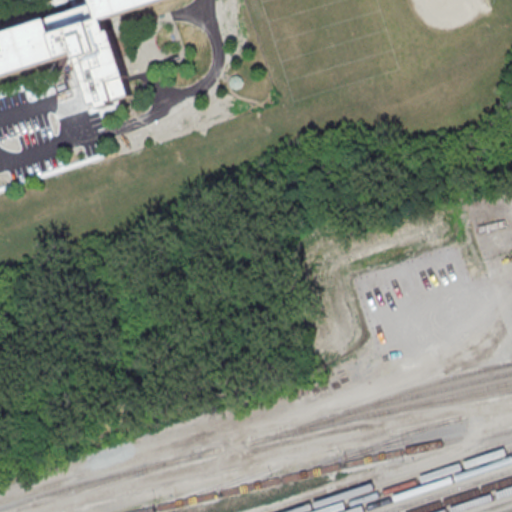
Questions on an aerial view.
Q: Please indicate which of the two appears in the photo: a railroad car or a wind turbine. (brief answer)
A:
railroad car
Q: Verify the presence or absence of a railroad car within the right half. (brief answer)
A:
Yes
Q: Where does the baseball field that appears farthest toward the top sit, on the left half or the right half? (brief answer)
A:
right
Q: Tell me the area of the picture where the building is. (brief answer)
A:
top left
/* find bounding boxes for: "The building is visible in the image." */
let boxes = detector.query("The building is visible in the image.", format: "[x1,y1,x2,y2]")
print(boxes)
[0,0,178,118]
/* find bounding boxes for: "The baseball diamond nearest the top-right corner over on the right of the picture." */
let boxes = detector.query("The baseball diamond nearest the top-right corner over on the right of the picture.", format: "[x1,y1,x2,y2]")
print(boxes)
[411,0,492,31]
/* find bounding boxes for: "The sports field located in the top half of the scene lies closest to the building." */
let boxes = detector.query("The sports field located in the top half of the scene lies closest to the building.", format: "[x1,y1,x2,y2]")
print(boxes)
[261,0,400,103]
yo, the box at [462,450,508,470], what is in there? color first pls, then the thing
white rail car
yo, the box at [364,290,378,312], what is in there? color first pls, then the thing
white vehicle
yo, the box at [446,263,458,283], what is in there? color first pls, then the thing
white vehicle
